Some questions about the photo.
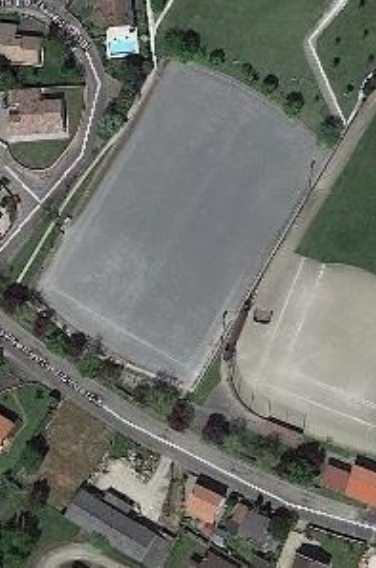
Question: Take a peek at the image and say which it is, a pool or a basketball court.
pool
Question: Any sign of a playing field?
Yes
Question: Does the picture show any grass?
Yes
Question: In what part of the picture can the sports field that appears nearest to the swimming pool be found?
center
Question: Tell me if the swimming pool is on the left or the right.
left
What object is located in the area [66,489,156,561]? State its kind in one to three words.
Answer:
barn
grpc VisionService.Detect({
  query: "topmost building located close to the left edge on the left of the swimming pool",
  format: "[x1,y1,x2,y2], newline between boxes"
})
[0,23,44,65]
